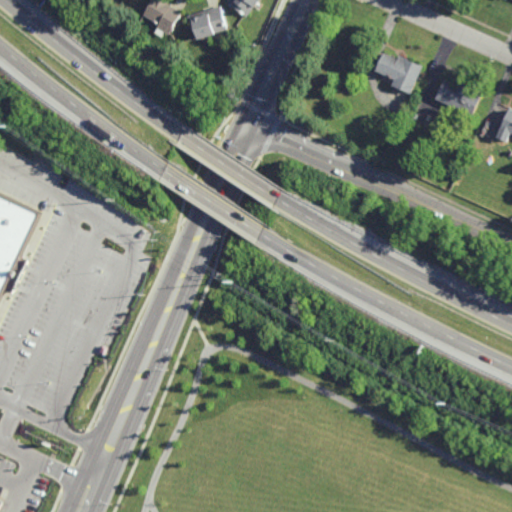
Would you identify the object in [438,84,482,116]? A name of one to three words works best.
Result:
house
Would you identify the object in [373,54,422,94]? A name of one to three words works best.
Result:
house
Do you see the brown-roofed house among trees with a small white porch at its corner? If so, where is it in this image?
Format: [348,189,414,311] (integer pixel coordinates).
[142,0,188,38]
